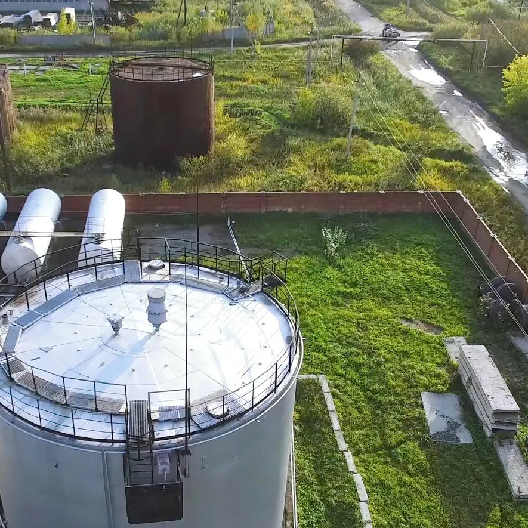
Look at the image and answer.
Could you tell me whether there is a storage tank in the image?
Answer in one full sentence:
Yes, the photo shows a storage tank.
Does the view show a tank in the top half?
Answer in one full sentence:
Yes, a tank can be seen in the top half.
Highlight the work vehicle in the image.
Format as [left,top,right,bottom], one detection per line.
[382,26,401,43]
